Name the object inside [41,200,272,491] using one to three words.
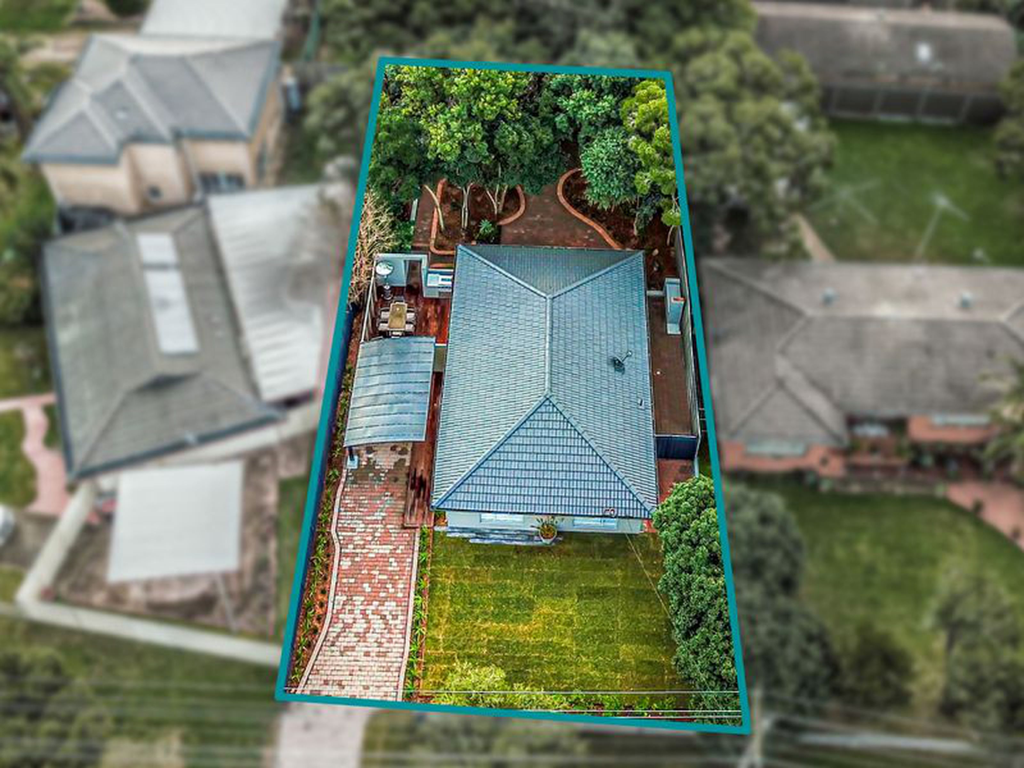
house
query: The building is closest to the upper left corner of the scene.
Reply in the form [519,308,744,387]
[19,37,289,223]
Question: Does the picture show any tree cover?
Yes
